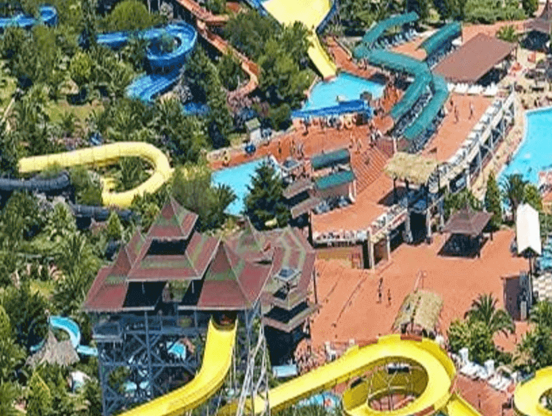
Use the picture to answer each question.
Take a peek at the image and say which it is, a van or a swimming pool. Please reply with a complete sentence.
Visible in the photo is a swimming pool.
